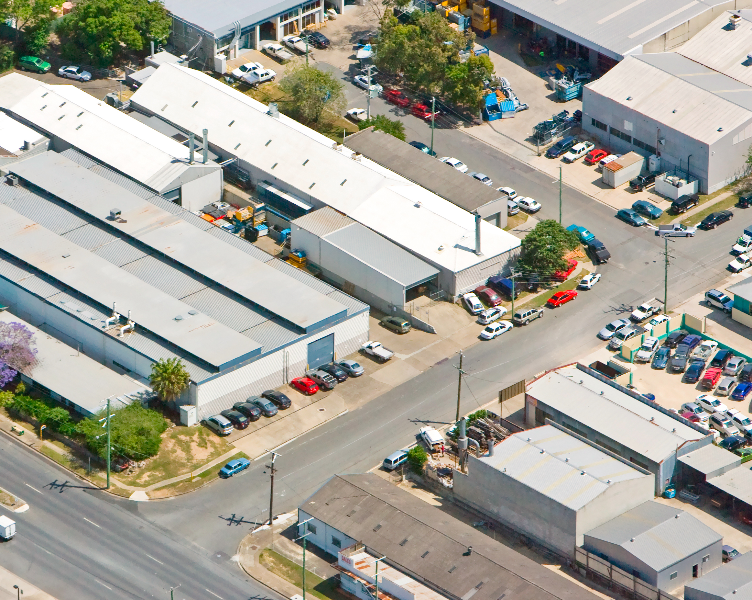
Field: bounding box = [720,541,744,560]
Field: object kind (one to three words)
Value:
car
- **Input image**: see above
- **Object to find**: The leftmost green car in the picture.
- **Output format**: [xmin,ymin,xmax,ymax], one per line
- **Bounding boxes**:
[20,53,48,74]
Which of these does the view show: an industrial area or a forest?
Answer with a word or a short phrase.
industrial area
